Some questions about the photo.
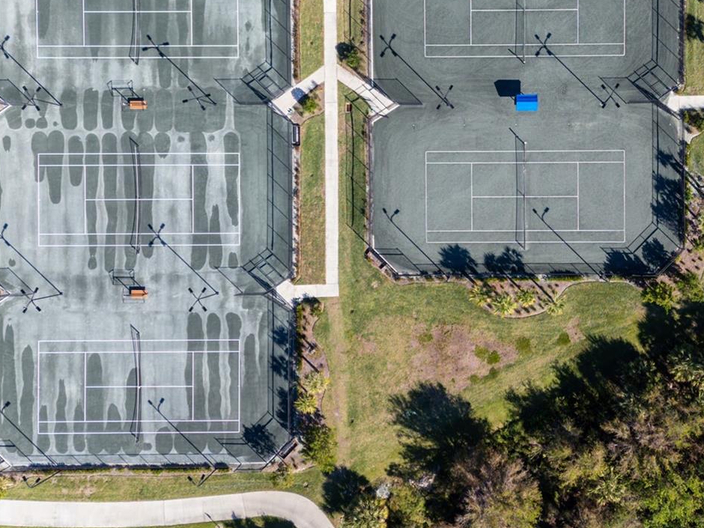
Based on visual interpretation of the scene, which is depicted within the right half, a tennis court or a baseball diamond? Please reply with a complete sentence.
What appears within the right half is a tennis court.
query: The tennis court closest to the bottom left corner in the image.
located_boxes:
[0,294,294,465]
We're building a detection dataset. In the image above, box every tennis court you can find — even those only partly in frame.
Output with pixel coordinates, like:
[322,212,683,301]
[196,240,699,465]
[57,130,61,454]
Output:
[0,294,294,465]
[0,105,294,294]
[371,0,682,105]
[372,105,684,276]
[0,0,292,105]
